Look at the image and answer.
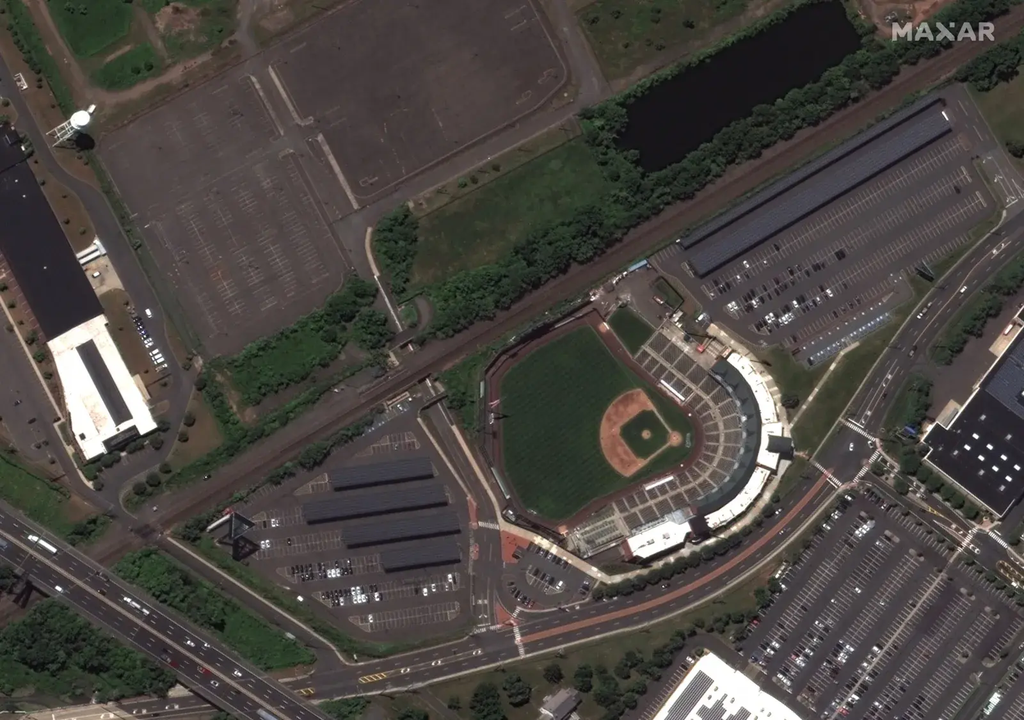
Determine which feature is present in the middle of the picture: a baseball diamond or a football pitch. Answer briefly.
baseball diamond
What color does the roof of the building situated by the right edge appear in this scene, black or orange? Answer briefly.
black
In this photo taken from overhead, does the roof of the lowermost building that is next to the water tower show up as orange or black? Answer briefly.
black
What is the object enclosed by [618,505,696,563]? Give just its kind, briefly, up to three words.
building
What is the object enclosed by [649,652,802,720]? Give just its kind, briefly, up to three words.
building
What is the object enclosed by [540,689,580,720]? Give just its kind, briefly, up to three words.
house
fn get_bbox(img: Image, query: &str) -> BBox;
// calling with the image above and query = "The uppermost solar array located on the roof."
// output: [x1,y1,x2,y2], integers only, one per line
[986,344,1024,419]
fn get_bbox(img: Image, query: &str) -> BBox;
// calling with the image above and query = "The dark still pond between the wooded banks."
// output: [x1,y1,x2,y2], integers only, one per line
[620,0,857,173]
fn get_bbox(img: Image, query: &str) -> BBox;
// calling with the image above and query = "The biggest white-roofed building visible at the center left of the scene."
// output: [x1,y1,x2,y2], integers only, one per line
[43,313,158,464]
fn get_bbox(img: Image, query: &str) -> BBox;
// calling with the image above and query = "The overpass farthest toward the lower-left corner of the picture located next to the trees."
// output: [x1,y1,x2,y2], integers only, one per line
[0,502,337,720]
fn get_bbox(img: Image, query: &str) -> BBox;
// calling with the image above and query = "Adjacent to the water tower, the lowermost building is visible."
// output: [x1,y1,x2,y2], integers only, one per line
[0,129,103,345]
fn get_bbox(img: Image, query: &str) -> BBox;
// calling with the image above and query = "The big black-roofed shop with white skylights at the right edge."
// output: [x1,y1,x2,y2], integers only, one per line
[916,315,1024,520]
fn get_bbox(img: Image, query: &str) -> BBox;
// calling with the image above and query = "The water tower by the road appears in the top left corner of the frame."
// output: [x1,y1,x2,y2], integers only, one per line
[46,106,86,147]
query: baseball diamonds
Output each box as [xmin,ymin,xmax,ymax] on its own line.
[491,310,704,537]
